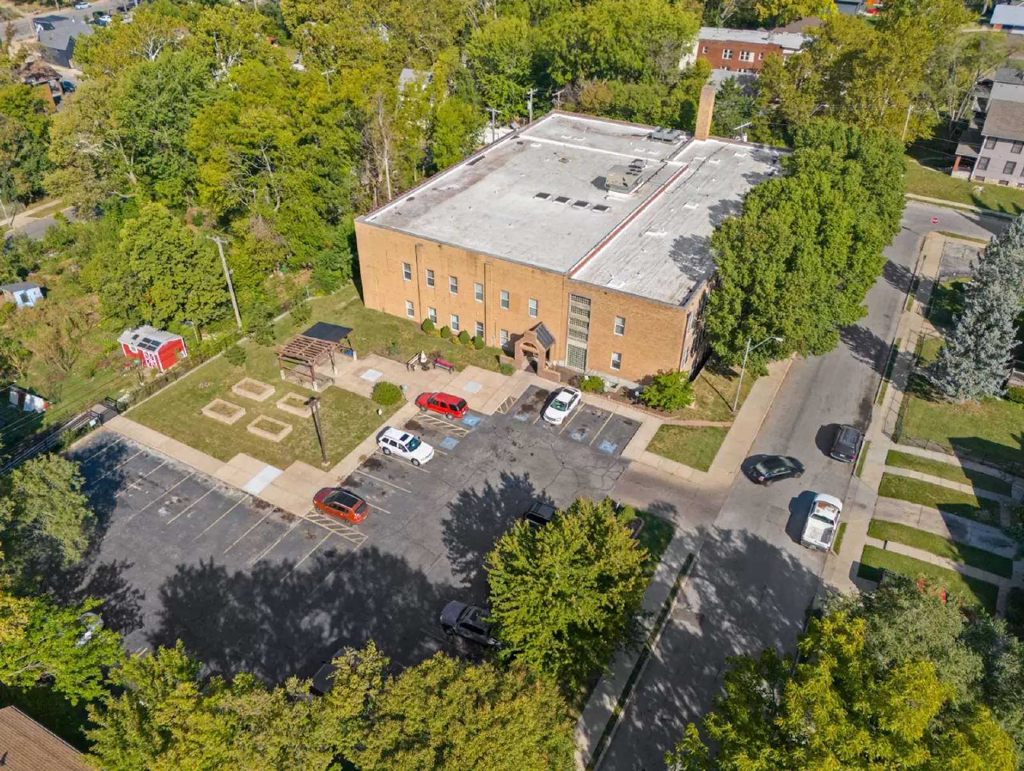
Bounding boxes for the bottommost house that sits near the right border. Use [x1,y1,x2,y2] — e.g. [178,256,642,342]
[942,104,1024,189]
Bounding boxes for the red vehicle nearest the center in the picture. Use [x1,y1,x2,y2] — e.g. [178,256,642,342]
[414,391,472,424]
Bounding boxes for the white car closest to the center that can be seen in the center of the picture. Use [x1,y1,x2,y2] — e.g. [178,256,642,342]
[542,385,584,424]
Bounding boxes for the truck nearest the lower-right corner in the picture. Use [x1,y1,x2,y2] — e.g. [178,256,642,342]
[799,490,846,551]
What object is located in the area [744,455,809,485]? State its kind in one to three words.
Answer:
car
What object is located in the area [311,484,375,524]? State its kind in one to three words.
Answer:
car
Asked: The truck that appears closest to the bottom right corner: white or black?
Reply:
white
